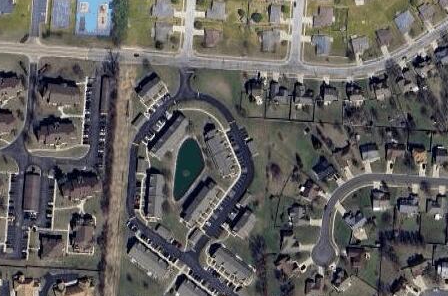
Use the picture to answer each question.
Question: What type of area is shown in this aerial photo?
residential area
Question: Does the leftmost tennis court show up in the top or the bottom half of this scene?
top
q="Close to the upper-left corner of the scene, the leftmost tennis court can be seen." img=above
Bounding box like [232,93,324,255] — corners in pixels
[52,0,71,28]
